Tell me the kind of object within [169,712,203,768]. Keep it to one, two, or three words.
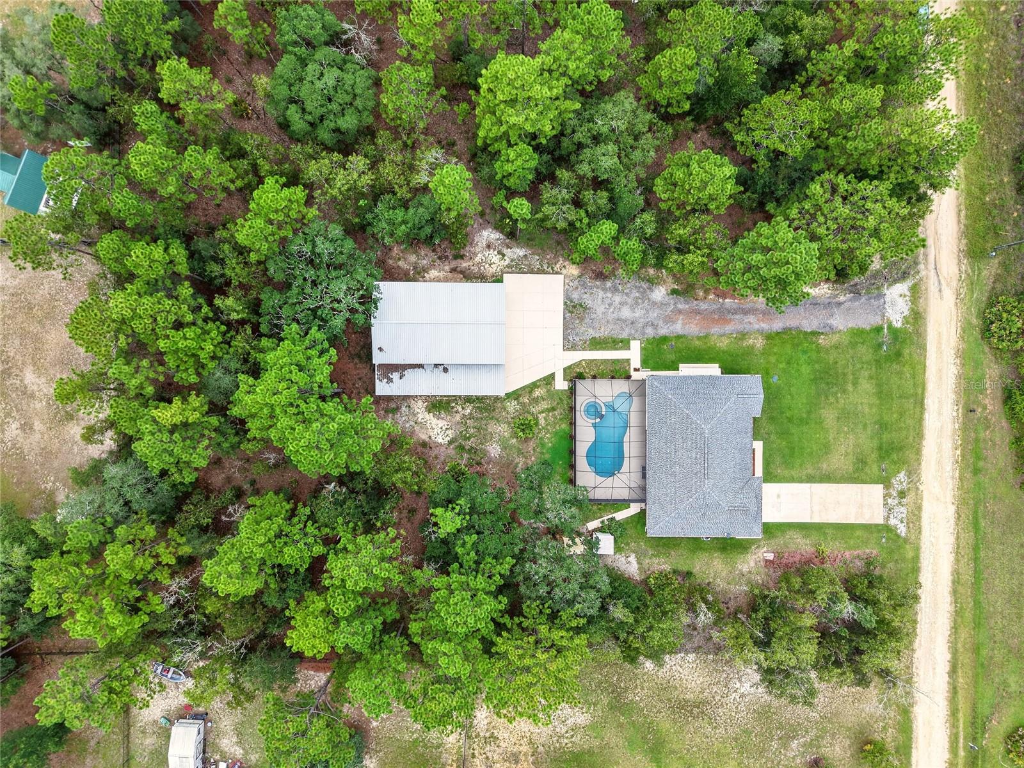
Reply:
trailer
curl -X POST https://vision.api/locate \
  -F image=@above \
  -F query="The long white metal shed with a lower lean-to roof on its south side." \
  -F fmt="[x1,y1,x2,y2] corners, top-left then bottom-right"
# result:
[371,281,506,395]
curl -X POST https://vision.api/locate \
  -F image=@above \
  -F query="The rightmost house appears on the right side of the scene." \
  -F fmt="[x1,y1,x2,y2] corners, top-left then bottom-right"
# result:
[645,375,766,538]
